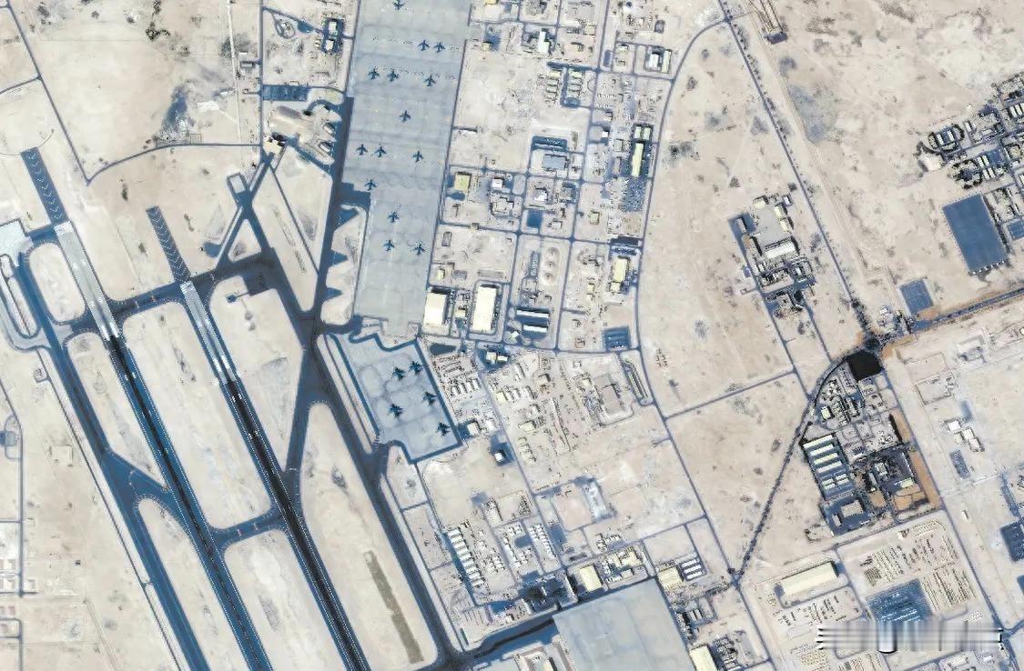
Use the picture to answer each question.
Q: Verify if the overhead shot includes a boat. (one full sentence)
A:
No, there is no boat in the image.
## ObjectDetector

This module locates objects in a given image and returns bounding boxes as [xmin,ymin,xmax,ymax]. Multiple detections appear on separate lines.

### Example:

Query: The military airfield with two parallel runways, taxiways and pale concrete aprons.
[0,0,698,671]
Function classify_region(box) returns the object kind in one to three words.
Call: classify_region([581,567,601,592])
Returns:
hangar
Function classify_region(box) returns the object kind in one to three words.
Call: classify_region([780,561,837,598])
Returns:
building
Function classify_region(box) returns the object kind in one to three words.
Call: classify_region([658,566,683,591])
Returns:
hangar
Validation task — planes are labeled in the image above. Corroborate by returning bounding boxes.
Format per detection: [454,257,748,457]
[392,366,406,381]
[383,239,394,252]
[374,145,386,158]
[368,67,379,80]
[433,41,445,53]
[423,75,435,87]
[389,404,403,419]
[418,39,430,51]
[437,423,450,437]
[391,0,403,10]
[387,212,399,224]
[412,151,424,162]
[423,391,437,406]
[413,244,425,255]
[399,111,411,122]
[409,361,423,376]
[386,70,399,82]
[356,143,368,156]
[364,180,376,192]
